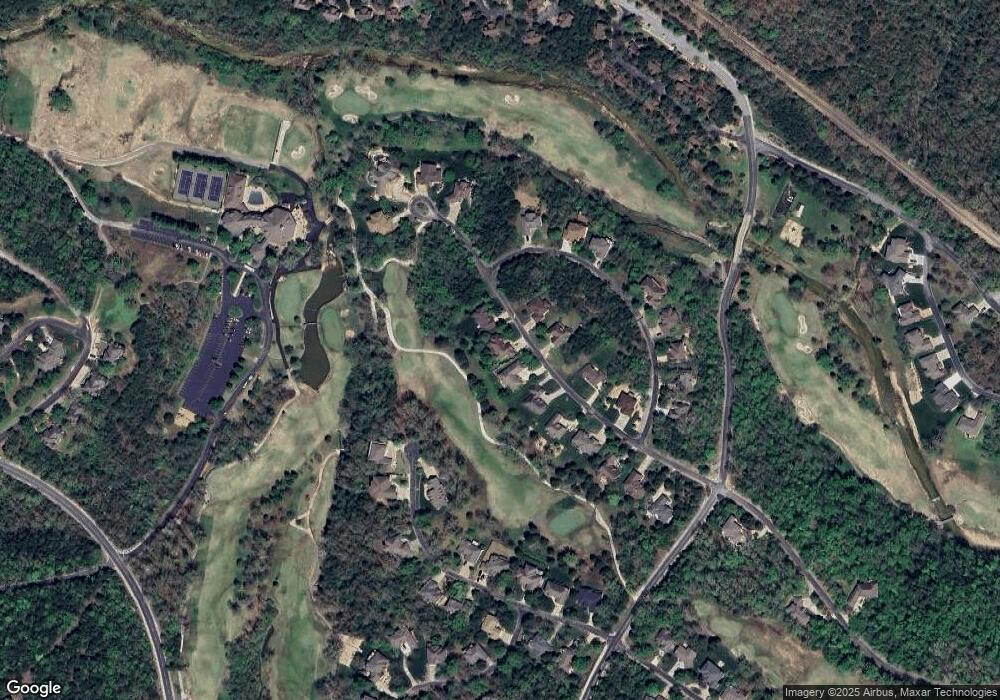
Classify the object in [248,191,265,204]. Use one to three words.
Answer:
swimming pool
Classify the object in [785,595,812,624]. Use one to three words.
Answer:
house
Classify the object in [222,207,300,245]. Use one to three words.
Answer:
building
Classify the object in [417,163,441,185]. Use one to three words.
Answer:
house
